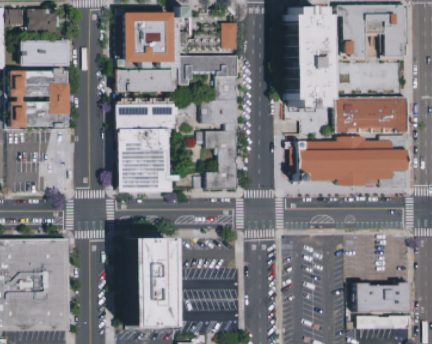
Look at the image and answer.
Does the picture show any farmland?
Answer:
No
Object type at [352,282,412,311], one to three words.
building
